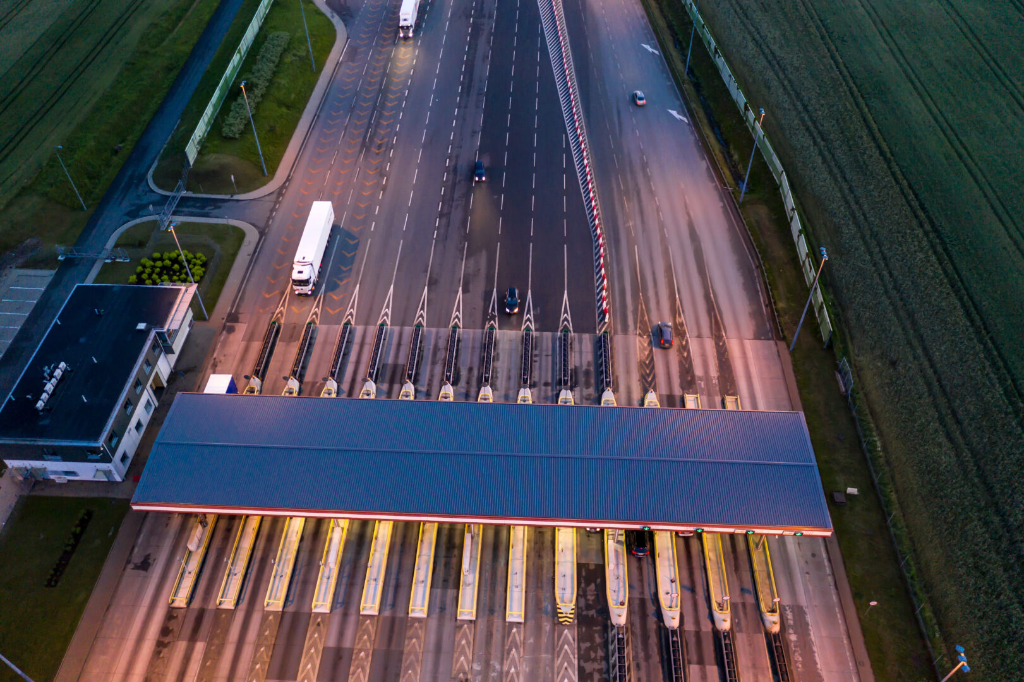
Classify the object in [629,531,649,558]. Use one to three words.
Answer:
car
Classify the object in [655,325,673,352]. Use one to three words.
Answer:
car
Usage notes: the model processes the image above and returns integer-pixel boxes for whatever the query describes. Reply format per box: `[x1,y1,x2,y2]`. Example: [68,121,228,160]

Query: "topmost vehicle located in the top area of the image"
[398,0,423,41]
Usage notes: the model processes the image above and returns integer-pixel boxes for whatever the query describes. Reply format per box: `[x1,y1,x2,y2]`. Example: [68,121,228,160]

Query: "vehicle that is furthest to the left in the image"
[204,374,238,392]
